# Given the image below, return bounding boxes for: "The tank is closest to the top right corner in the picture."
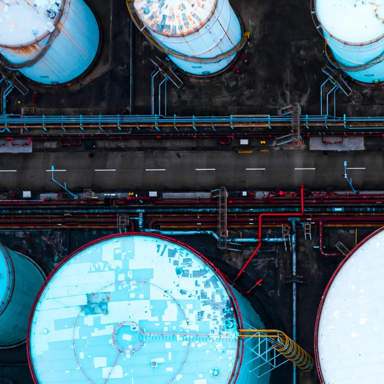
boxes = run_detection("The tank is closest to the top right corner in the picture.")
[309,0,384,87]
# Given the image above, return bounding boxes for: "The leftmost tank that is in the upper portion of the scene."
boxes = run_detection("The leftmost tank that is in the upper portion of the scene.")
[0,0,100,91]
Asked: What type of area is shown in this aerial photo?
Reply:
industrial area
